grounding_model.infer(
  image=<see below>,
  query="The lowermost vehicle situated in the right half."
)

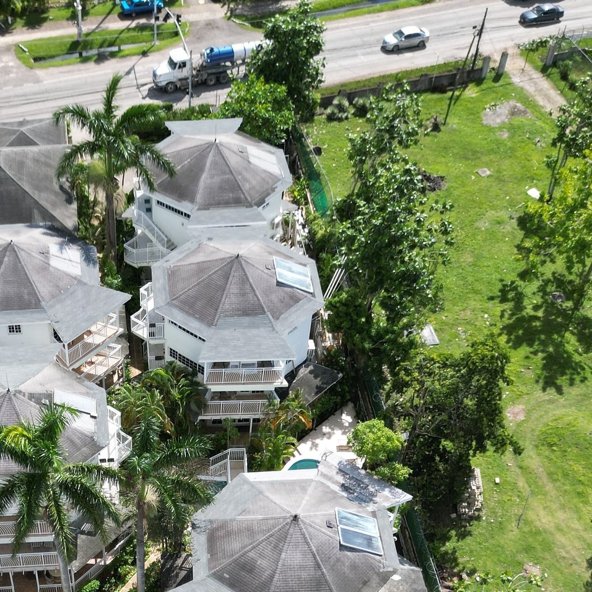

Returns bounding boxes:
[383,28,431,53]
